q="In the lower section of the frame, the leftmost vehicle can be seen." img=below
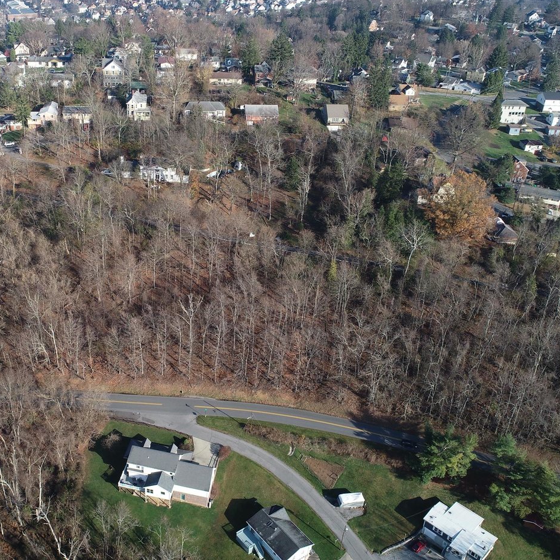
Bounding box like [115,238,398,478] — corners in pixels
[338,492,368,511]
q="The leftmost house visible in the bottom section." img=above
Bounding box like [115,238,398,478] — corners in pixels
[113,429,227,517]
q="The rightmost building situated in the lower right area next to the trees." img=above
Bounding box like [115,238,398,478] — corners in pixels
[423,496,504,560]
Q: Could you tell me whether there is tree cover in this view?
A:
Yes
